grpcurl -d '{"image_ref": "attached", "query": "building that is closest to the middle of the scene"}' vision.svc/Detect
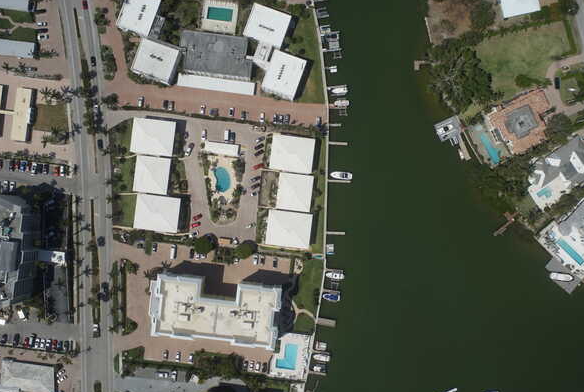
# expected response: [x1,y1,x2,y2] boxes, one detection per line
[276,171,314,211]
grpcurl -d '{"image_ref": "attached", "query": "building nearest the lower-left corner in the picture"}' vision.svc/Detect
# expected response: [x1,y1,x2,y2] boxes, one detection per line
[0,357,58,392]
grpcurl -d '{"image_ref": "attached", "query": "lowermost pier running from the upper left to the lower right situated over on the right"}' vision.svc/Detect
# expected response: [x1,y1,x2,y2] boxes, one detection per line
[544,257,580,294]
